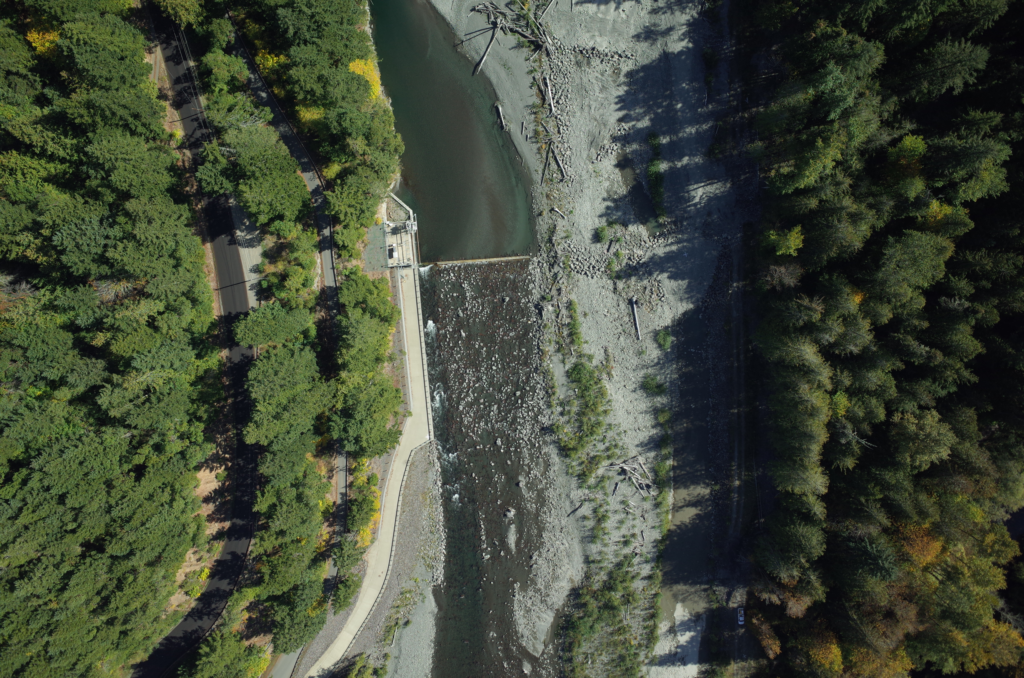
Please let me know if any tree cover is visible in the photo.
Yes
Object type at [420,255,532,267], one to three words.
dam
